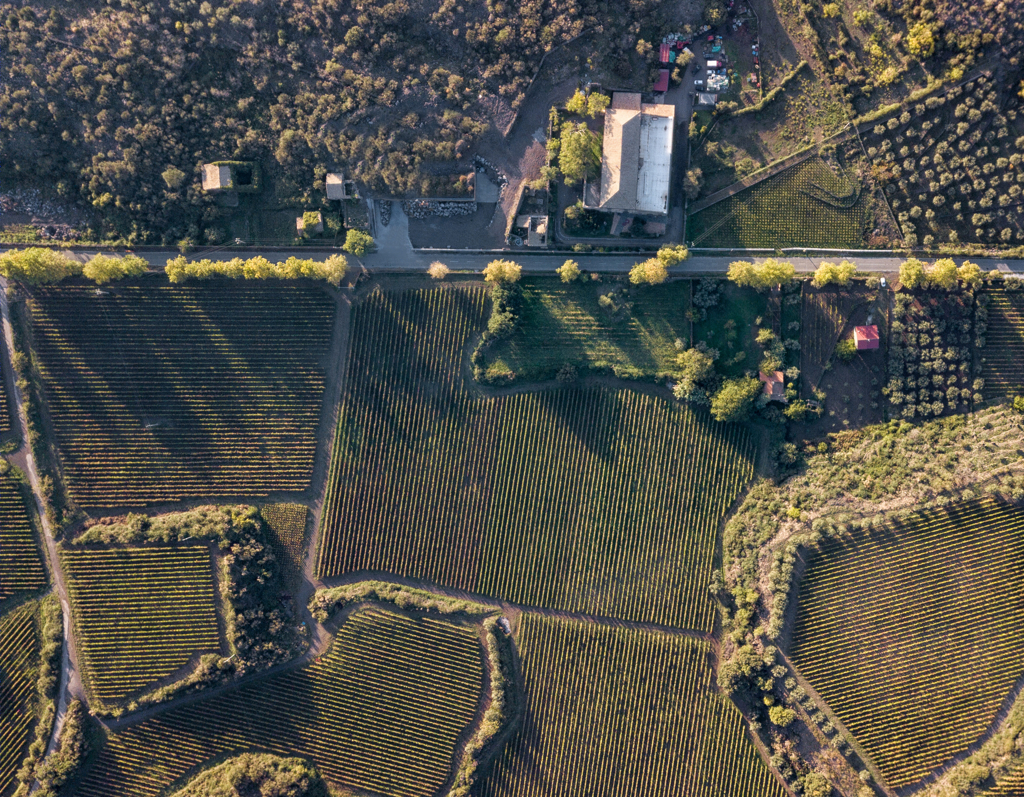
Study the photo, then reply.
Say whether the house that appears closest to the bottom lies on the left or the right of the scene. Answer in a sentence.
The house that appears closest to the bottom sits on the right side.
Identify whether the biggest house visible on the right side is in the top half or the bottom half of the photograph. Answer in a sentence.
The top half of the photo is where the biggest house visible on the right side is.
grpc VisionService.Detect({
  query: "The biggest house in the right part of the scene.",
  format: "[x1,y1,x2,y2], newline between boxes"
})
[582,92,675,217]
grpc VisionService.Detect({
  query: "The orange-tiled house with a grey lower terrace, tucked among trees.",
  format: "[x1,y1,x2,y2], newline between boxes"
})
[757,371,787,402]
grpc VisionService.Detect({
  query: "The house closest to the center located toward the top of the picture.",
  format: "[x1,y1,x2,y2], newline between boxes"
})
[517,215,548,248]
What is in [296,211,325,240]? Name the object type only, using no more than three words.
shed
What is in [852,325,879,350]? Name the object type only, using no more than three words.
house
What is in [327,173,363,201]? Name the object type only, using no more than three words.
shed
